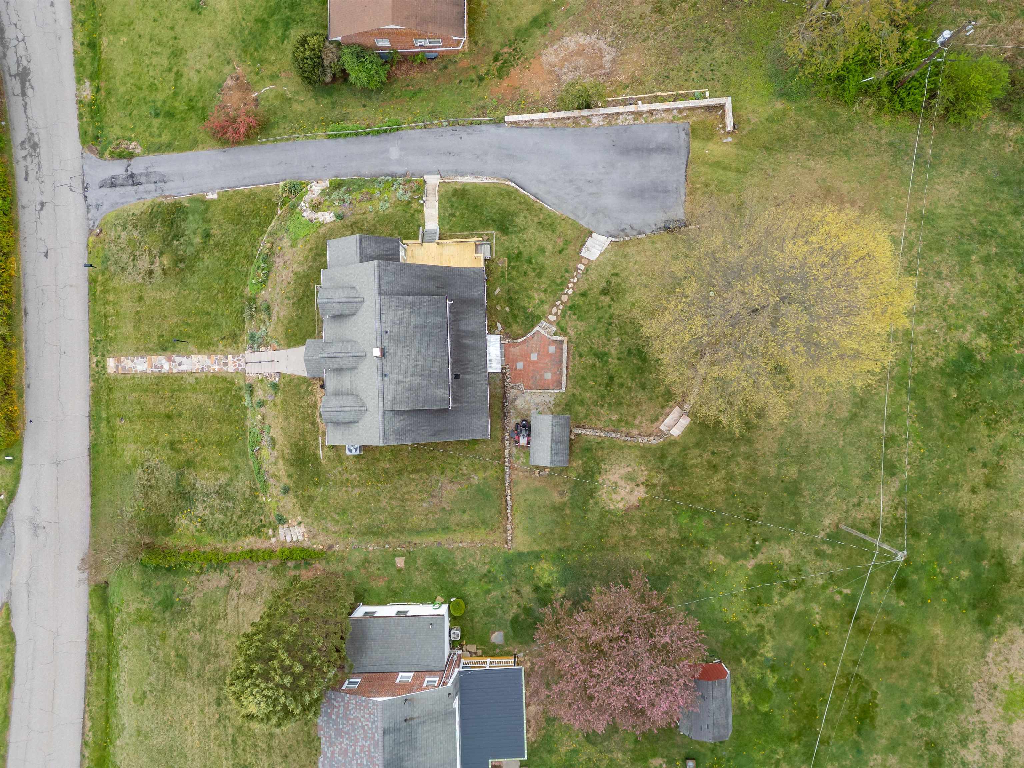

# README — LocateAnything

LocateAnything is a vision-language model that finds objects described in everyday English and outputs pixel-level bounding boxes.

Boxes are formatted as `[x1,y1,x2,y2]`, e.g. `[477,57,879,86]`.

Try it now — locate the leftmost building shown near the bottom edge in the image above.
[315,595,527,768]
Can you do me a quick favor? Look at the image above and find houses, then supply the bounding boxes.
[303,234,502,447]
[327,0,468,64]
[315,595,527,768]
